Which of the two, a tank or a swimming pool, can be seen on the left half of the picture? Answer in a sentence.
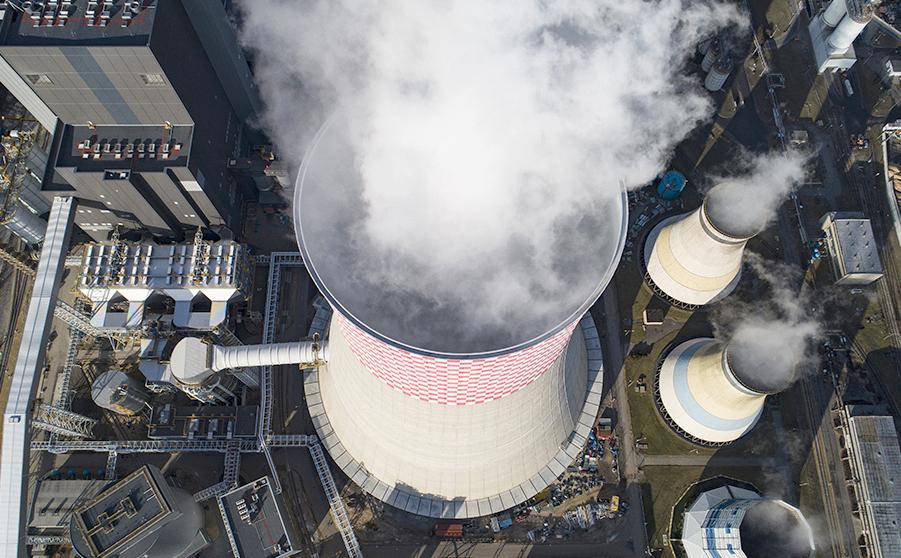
The one visible on the left half of the picture is a tank.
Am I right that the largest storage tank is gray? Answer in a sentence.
Yes, the largest storage tank appears gray.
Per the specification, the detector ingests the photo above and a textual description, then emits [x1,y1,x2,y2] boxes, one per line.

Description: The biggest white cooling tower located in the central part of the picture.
[293,62,629,522]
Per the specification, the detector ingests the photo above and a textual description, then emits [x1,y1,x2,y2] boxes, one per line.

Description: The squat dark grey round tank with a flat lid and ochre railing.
[93,367,159,424]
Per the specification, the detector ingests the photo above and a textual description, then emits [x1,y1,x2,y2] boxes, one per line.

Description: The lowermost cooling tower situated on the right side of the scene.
[667,477,818,558]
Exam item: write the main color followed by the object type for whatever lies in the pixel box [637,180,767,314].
white cooling tower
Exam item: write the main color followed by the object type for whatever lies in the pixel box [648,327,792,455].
white cooling tower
